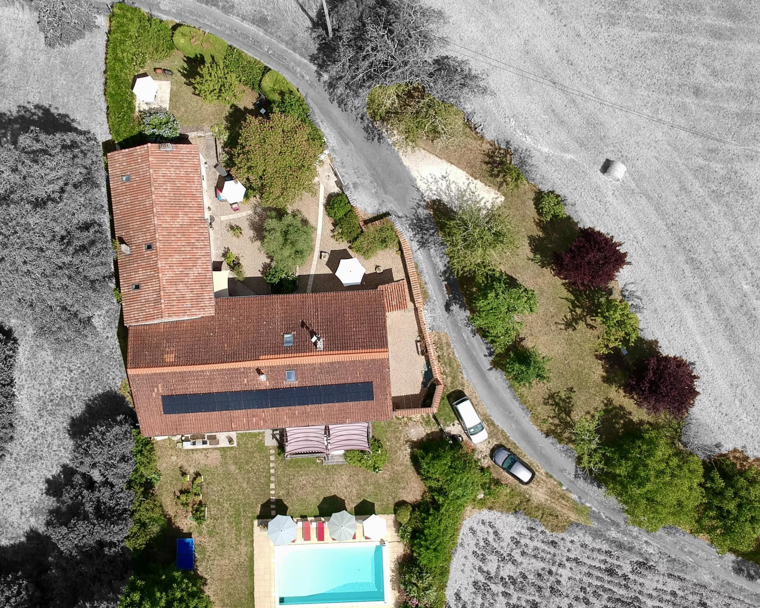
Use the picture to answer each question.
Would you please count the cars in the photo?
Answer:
2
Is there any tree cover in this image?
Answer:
Yes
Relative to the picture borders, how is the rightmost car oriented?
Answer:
at an angle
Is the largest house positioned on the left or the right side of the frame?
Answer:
left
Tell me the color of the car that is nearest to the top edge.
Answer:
white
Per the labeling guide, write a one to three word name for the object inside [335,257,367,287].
umbrella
